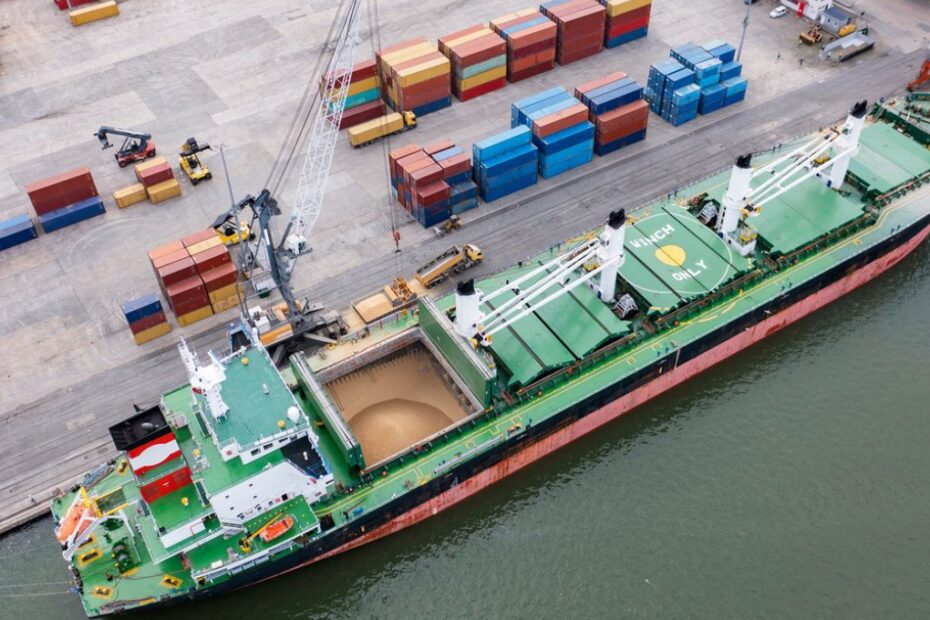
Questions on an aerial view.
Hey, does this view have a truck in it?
Yes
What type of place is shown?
port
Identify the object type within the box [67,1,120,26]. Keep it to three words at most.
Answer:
shipping container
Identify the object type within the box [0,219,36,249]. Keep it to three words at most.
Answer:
shipping container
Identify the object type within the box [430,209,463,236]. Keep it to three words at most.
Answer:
work vehicle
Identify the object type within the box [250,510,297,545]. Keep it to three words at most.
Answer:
boat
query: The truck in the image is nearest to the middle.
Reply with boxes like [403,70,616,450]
[414,248,484,291]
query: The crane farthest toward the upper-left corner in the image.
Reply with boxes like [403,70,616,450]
[234,0,403,369]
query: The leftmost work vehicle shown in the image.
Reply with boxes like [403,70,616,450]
[91,129,156,167]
